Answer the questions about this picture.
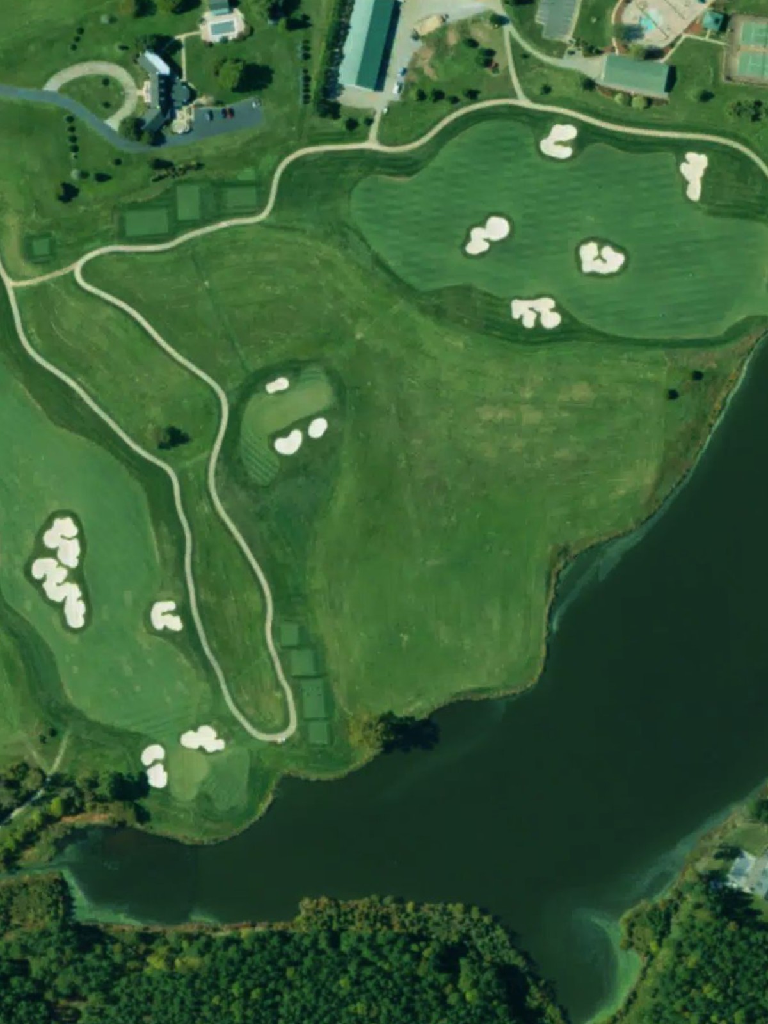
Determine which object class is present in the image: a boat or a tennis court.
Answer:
tennis court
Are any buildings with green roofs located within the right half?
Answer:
Yes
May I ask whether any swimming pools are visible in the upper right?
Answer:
Yes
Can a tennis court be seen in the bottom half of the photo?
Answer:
No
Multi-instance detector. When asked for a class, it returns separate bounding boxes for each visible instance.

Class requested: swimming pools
[623,0,710,47]
[201,9,244,43]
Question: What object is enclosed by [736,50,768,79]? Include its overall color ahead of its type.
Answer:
green tennis court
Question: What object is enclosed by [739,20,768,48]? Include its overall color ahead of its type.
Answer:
green tennis court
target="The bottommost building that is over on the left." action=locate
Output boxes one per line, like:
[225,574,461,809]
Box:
[137,51,190,132]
